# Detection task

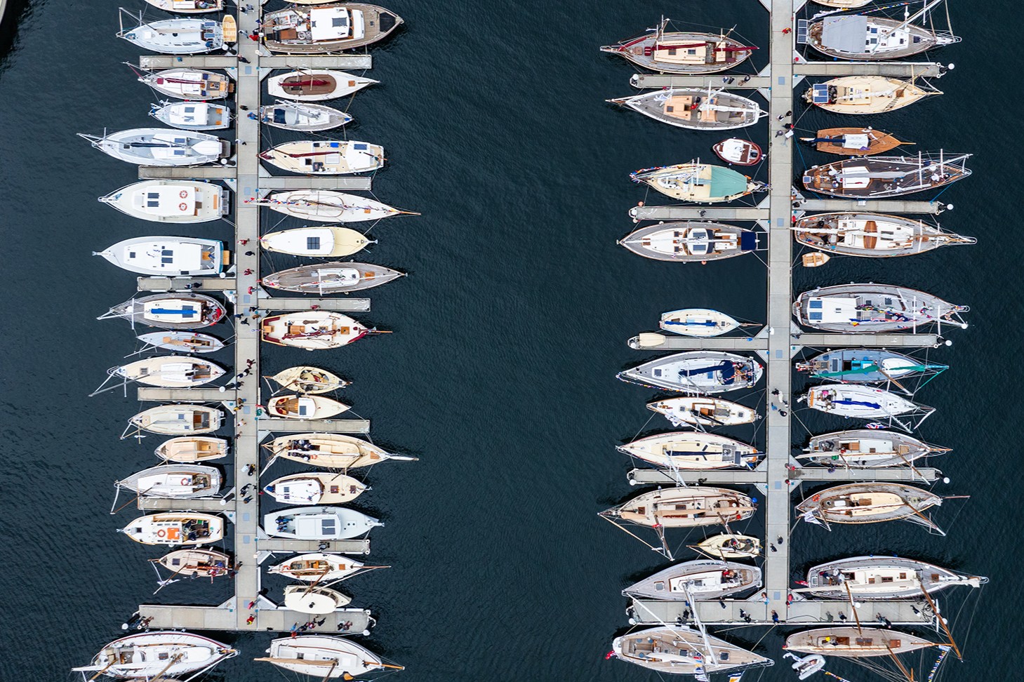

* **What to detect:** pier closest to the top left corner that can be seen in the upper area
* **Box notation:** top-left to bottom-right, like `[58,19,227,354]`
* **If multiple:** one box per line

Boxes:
[139,44,238,80]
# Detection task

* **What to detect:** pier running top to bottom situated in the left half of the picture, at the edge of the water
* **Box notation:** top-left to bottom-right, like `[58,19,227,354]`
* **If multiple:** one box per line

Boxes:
[232,0,268,630]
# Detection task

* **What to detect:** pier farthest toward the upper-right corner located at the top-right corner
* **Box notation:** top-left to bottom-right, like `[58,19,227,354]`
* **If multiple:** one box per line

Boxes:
[793,52,943,89]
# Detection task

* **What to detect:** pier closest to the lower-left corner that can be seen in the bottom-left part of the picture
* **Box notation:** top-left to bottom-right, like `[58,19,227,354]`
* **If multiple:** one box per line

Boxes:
[139,591,235,630]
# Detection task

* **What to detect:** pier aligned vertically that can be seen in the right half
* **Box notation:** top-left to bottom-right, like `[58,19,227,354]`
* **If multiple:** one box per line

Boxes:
[758,0,805,624]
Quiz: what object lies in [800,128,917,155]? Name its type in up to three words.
boat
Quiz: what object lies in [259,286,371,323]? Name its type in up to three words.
pier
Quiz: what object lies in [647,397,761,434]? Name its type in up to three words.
boat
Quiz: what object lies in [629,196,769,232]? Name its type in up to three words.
pier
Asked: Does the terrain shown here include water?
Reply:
Yes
